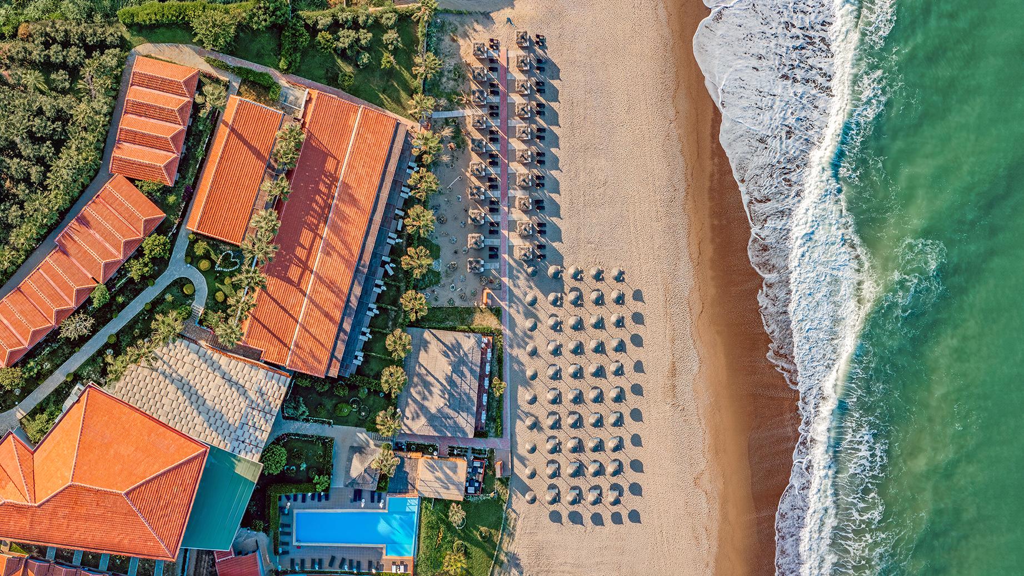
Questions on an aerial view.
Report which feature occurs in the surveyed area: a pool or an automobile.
pool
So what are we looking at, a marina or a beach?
beach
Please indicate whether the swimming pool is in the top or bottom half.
bottom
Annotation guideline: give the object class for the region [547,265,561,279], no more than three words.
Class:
umbrella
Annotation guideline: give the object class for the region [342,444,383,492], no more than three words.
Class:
gazebo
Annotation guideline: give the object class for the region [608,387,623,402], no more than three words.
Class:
umbrella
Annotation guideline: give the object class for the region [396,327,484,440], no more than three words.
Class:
building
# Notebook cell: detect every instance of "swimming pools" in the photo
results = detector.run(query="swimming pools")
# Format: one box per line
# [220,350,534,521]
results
[292,496,420,558]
